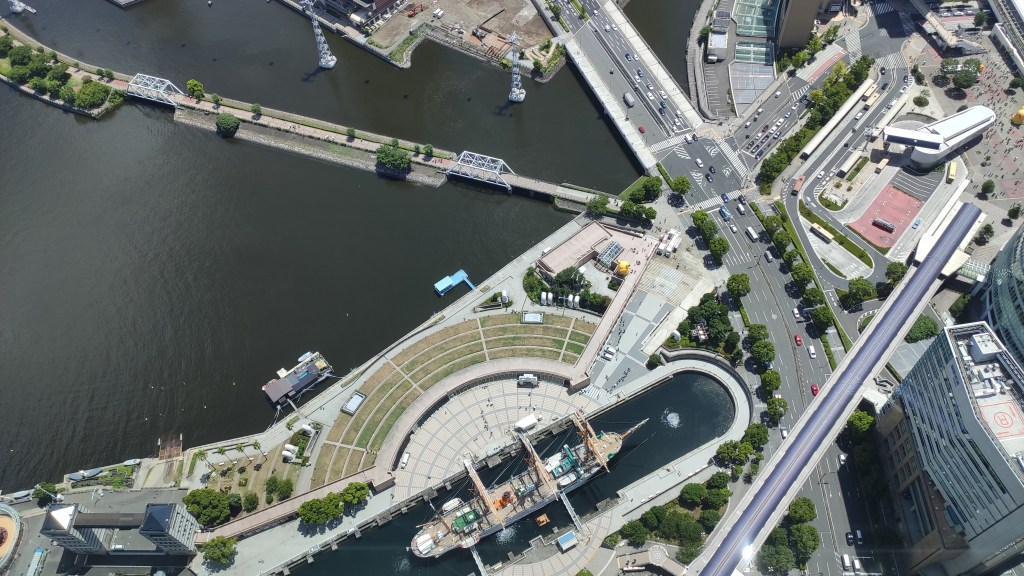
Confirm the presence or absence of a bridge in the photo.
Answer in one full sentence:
Yes, the photo shows a bridge.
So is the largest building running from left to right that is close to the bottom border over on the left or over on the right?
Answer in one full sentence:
The largest building running from left to right that is close to the bottom border appears in the left half of the scene.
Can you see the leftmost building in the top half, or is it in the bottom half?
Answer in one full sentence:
The bottom half of the photo is where the leftmost building is.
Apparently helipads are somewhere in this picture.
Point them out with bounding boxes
[977,397,1024,447]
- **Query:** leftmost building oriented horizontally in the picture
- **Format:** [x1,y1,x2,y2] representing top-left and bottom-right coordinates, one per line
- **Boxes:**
[39,501,203,571]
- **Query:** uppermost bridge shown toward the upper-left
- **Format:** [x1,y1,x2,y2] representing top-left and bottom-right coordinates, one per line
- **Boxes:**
[126,72,187,108]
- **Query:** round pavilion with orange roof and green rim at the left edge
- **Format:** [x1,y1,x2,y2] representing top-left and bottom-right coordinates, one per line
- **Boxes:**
[0,495,34,566]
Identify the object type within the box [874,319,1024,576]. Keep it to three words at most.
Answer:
building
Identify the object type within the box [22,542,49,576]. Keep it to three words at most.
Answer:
bus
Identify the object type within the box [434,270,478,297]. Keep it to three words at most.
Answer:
pier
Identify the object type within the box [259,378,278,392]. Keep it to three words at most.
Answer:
boat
